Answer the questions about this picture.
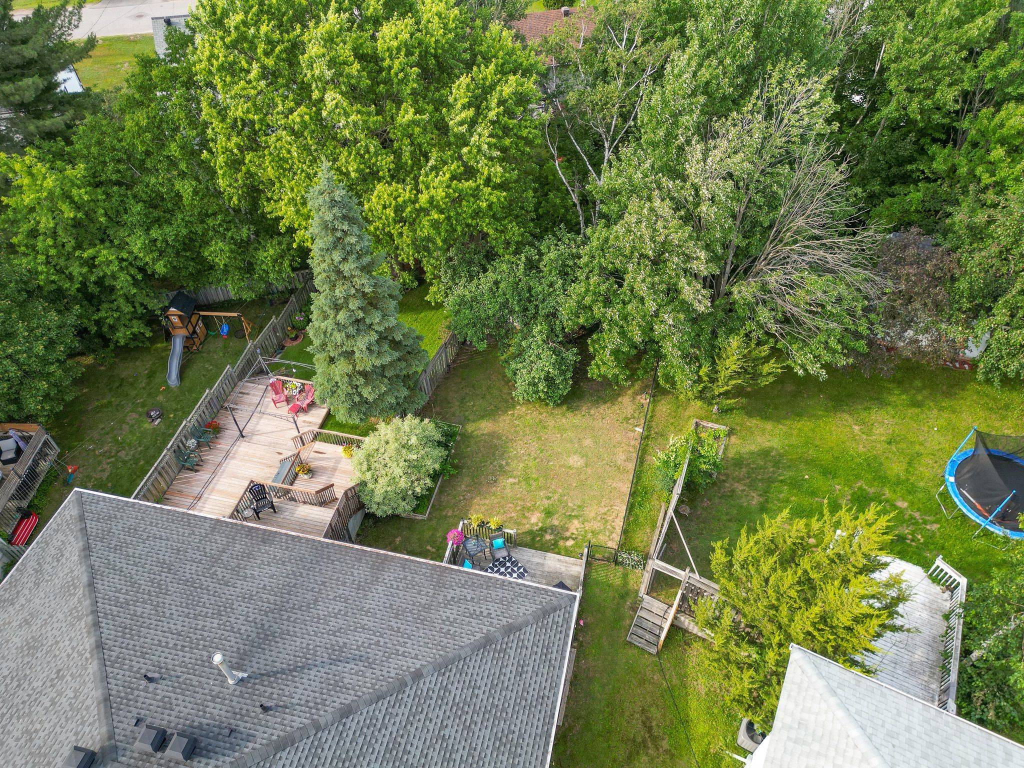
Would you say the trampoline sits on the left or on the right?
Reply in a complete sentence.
The trampoline appears in the right half of the scene.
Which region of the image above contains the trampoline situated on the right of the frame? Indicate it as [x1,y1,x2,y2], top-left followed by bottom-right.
[923,426,1024,555]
